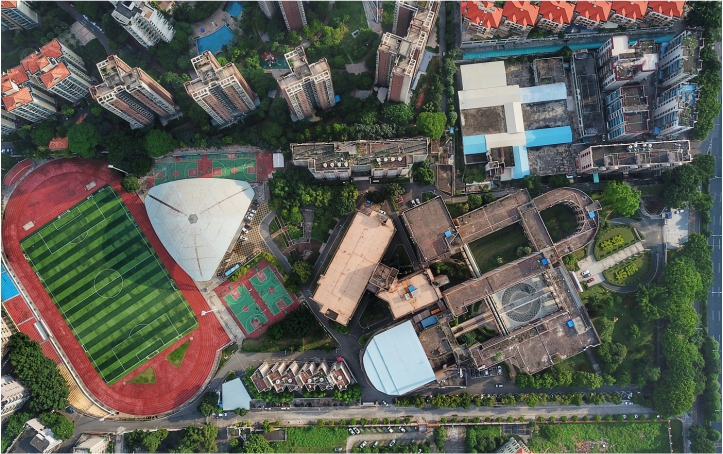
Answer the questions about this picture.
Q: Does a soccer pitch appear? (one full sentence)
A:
Yes, this view includes a soccer pitch.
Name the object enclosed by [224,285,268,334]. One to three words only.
basketball court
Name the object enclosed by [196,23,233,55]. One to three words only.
swimming pool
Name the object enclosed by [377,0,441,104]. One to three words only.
building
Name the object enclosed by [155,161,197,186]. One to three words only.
basketball court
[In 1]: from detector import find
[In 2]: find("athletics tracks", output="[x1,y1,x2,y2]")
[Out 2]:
[2,157,230,415]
